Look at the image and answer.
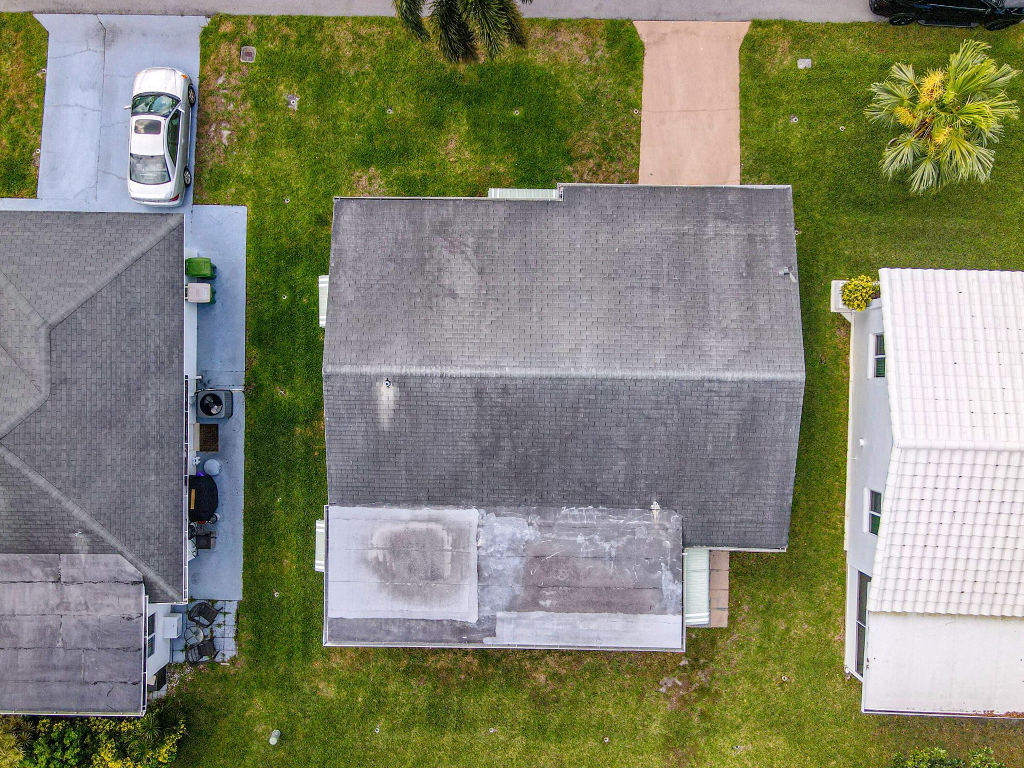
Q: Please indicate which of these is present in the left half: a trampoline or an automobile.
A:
automobile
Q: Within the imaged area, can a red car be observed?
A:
No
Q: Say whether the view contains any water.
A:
No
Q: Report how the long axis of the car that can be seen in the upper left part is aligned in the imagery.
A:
from top to bottom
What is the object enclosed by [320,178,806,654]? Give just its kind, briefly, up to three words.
house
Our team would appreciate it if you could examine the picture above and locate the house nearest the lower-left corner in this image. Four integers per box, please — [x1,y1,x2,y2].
[0,211,203,716]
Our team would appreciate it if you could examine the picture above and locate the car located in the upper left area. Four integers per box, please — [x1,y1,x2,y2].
[121,65,195,207]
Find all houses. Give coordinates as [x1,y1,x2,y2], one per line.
[320,178,806,654]
[0,211,203,716]
[844,267,1024,718]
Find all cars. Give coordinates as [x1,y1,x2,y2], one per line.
[877,0,1024,30]
[121,65,195,207]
